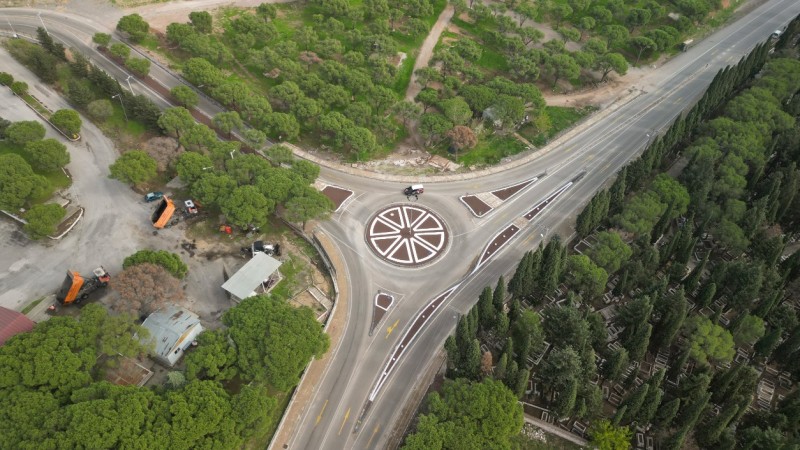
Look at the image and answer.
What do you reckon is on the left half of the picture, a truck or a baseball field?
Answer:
truck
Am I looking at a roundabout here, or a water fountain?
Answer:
roundabout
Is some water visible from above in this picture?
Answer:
No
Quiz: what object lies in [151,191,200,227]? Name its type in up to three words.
truck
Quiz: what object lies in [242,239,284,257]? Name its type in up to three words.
work vehicle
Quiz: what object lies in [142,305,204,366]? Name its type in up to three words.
house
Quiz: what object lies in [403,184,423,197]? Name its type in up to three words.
vehicle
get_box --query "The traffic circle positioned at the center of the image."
[362,203,451,269]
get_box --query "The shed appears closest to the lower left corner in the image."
[0,305,38,348]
